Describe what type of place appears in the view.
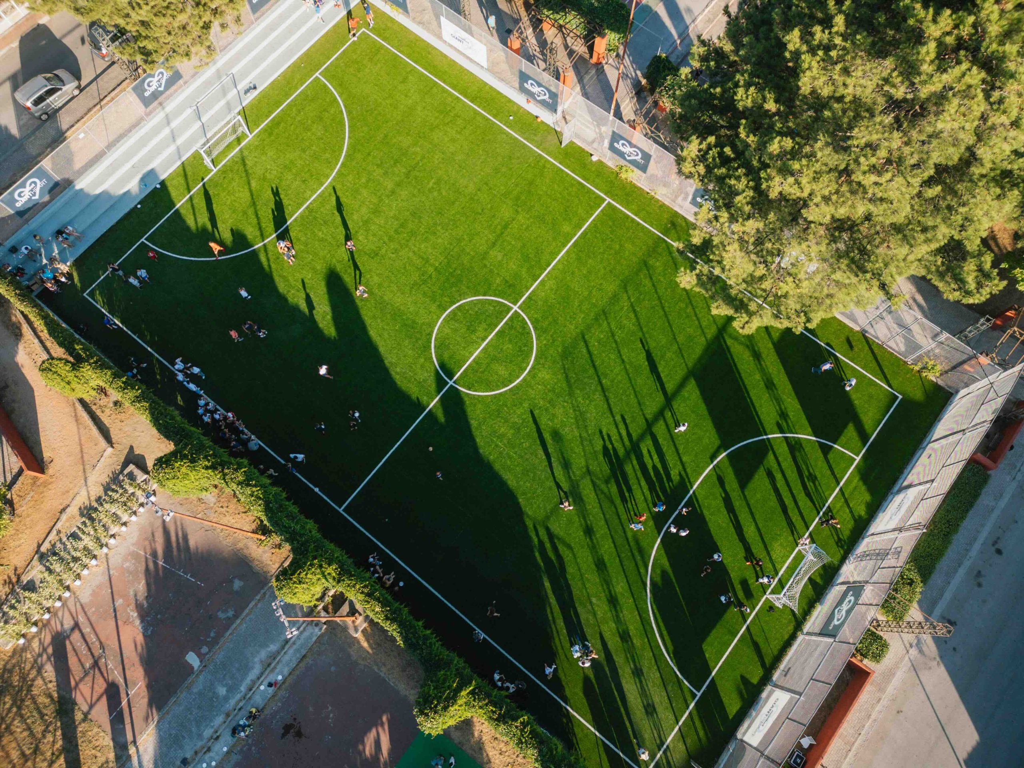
sports ground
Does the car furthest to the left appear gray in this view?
Yes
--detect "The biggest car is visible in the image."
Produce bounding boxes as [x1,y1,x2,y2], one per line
[13,70,78,123]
